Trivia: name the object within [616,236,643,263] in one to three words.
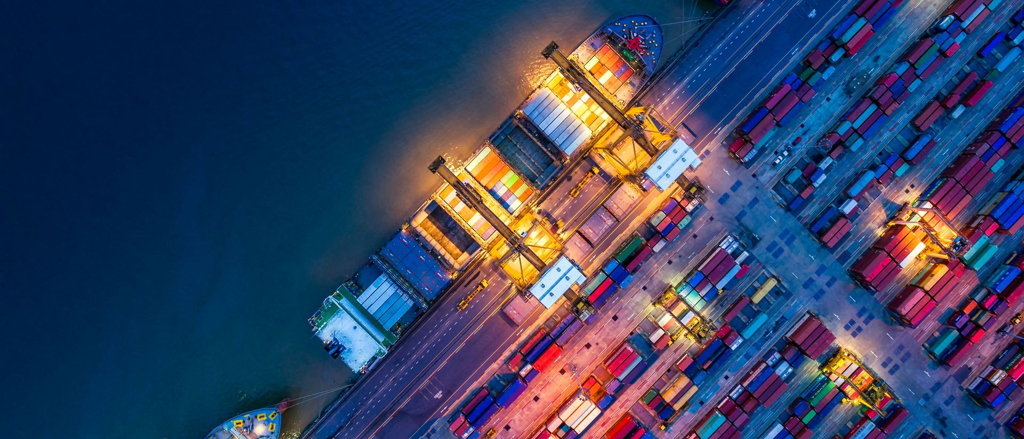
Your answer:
shipping container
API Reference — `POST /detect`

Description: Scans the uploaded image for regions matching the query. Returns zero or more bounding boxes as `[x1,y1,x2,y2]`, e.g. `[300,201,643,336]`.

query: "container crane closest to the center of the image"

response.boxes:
[424,152,604,327]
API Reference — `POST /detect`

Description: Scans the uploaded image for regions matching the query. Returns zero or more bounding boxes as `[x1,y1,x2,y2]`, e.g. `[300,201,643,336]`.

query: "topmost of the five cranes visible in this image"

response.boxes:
[541,34,720,208]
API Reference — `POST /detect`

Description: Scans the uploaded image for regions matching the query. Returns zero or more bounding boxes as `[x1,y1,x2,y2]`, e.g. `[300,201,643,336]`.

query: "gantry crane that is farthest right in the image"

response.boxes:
[887,203,973,262]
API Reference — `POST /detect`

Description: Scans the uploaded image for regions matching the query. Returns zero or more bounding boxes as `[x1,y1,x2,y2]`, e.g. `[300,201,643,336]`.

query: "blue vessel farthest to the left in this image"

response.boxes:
[205,398,292,439]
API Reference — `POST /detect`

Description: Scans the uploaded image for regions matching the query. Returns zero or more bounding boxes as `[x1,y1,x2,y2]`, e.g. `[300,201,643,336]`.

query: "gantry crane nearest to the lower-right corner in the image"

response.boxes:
[823,349,900,414]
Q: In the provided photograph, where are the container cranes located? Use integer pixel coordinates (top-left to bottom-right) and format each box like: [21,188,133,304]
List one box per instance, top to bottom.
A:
[541,34,720,208]
[424,152,604,327]
[887,203,973,262]
[653,289,720,349]
[823,349,900,414]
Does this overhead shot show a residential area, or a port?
port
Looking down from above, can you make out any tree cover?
No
